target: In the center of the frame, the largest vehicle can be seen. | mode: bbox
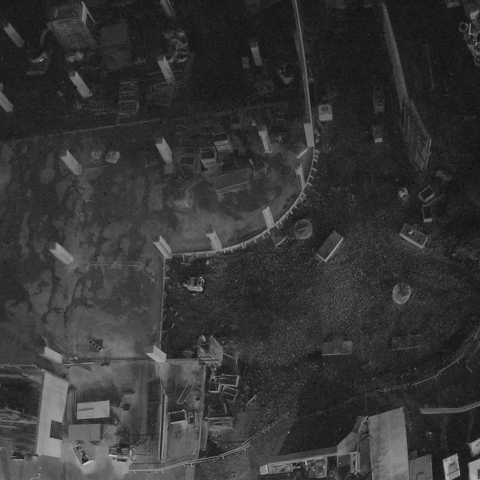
[182,276,206,292]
